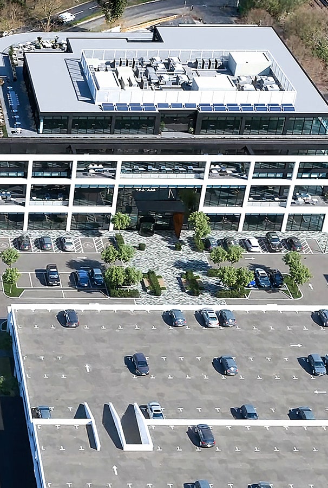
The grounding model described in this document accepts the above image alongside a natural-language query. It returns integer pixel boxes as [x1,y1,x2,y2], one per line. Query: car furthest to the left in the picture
[17,232,31,250]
